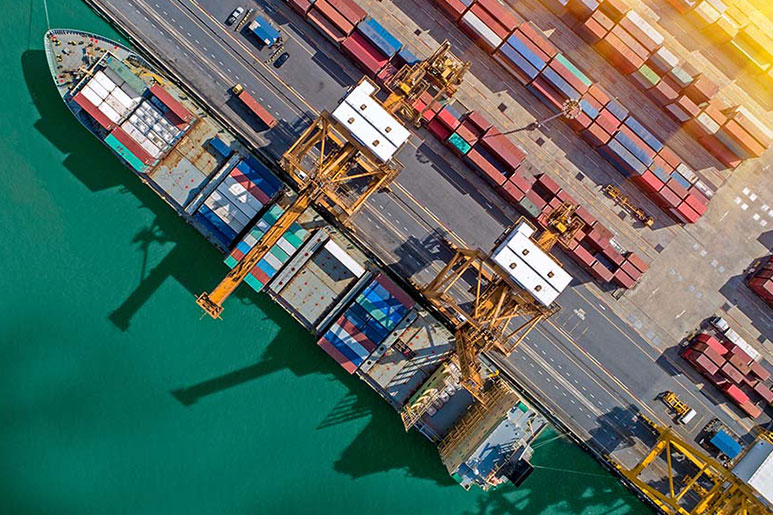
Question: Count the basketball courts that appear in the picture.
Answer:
0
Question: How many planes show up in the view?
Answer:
0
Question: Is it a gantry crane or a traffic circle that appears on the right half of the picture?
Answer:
gantry crane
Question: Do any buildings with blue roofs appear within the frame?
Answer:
Yes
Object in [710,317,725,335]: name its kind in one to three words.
vehicle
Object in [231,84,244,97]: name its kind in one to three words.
vehicle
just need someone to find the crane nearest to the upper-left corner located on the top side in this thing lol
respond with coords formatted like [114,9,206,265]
[189,41,476,325]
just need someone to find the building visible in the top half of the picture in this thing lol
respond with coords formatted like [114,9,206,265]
[248,15,281,50]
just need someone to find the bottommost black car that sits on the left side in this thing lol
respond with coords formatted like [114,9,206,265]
[276,54,291,69]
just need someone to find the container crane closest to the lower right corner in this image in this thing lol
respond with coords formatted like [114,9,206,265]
[601,412,773,515]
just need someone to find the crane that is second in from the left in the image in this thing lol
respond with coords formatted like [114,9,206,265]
[410,205,593,406]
